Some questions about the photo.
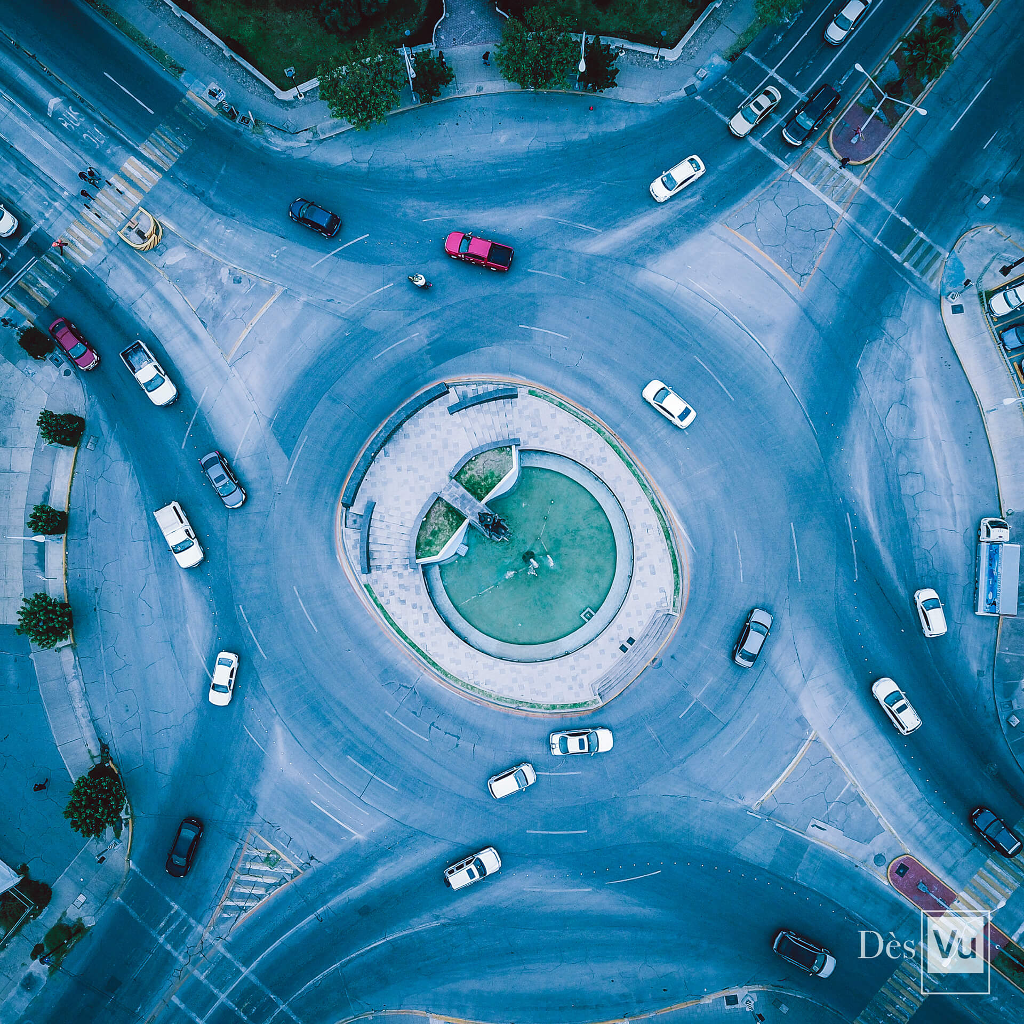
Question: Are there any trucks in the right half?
Yes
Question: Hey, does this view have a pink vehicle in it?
Yes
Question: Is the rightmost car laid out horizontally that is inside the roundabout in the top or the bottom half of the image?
bottom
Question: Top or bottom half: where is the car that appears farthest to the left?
top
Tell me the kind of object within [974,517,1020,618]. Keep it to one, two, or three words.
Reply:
truck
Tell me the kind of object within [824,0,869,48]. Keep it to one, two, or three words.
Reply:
car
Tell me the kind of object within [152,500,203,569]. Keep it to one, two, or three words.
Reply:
vehicle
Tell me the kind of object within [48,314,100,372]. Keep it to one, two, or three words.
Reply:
car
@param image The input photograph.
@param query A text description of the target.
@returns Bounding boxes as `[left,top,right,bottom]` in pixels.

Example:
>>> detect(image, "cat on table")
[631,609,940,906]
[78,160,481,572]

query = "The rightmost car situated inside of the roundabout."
[734,607,770,669]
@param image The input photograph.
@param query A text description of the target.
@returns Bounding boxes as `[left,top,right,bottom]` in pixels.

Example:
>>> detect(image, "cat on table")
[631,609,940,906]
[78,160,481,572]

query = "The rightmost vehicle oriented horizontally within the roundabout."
[550,727,614,757]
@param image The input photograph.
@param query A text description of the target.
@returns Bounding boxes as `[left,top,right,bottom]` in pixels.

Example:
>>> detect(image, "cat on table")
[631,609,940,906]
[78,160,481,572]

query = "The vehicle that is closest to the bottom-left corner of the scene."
[167,816,205,878]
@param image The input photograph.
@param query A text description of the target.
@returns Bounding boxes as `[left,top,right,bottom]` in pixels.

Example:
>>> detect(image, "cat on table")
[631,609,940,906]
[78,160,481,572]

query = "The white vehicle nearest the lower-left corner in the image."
[207,650,241,707]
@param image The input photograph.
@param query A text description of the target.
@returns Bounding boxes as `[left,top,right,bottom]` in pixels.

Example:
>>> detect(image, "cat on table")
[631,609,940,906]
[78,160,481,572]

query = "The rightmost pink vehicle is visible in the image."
[444,232,517,272]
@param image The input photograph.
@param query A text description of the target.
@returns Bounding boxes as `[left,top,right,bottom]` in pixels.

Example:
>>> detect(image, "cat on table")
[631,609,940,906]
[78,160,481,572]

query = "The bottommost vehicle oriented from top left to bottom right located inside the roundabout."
[640,378,700,431]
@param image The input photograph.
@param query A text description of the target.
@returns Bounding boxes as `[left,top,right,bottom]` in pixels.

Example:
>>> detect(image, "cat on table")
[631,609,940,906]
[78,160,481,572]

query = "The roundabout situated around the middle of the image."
[238,270,788,821]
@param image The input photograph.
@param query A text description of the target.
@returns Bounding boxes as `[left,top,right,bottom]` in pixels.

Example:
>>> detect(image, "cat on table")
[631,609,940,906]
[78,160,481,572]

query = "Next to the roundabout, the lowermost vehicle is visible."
[443,846,503,893]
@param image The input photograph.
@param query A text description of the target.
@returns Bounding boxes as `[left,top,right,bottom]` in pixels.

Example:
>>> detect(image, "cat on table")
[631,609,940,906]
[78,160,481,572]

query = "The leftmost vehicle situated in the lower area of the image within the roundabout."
[485,762,538,800]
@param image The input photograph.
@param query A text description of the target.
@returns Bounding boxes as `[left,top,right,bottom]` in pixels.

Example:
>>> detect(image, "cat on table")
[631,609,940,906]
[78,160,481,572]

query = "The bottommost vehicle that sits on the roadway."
[772,930,837,978]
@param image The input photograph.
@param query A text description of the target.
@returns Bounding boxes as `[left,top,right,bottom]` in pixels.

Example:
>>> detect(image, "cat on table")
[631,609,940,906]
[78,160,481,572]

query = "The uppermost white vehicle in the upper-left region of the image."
[0,207,20,241]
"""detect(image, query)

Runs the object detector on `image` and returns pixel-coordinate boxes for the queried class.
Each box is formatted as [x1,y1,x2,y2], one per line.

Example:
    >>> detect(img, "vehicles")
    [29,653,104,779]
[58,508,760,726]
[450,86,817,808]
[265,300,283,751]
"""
[872,675,924,739]
[984,279,1024,319]
[729,82,784,141]
[772,930,837,978]
[997,321,1024,352]
[824,0,869,48]
[550,727,614,757]
[784,79,840,148]
[287,198,344,238]
[152,500,203,569]
[200,448,246,510]
[444,232,517,272]
[640,378,700,431]
[0,207,20,241]
[734,607,770,669]
[48,314,100,372]
[118,338,177,406]
[443,846,503,893]
[913,587,947,639]
[485,762,538,800]
[974,517,1020,618]
[167,816,205,878]
[207,650,241,707]
[647,152,709,204]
